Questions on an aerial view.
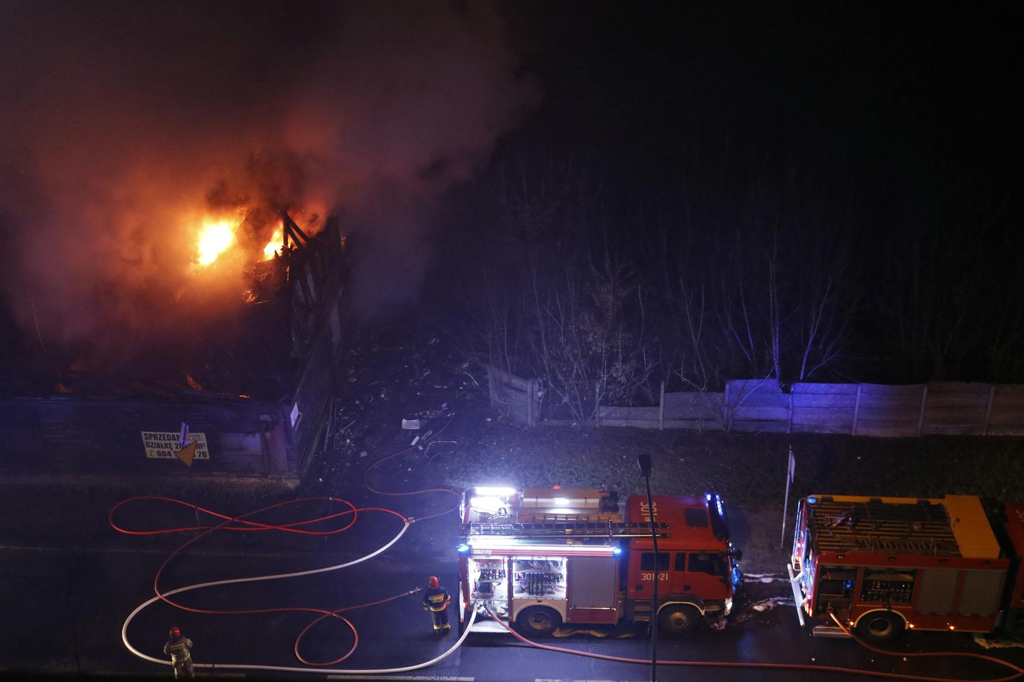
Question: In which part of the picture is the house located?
left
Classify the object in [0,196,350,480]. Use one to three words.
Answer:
house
